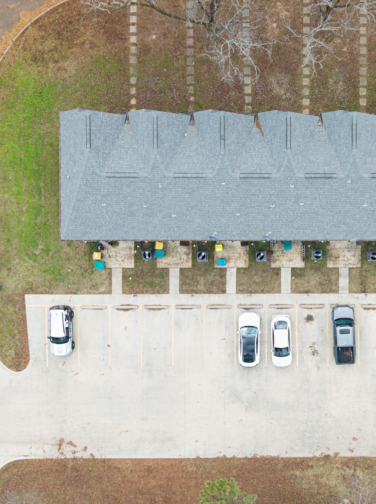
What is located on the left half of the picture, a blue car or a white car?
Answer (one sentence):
The one visible on the left half of the picture is a white car.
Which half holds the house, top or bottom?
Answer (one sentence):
It is in the top half that the house appears.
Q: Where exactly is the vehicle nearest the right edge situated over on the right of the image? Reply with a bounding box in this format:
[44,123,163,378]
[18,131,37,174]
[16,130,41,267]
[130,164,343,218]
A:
[330,305,357,367]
